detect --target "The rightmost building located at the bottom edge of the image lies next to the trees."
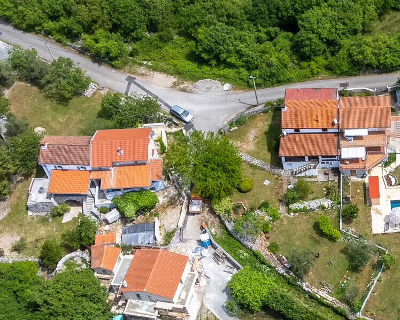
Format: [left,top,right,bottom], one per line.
[110,248,204,320]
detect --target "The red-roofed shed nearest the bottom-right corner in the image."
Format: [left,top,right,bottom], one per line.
[367,176,380,207]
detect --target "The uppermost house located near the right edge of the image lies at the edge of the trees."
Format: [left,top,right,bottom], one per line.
[279,87,400,178]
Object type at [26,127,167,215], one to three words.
house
